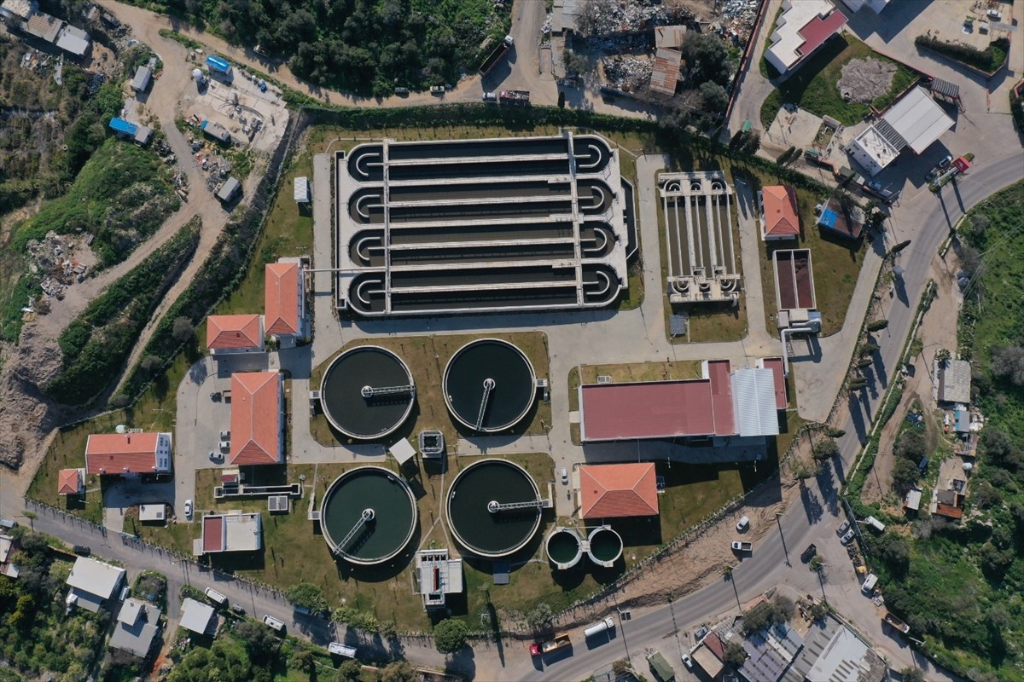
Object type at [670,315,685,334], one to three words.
solar array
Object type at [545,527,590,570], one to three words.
storage tank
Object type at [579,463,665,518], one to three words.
house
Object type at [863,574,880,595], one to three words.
vehicle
